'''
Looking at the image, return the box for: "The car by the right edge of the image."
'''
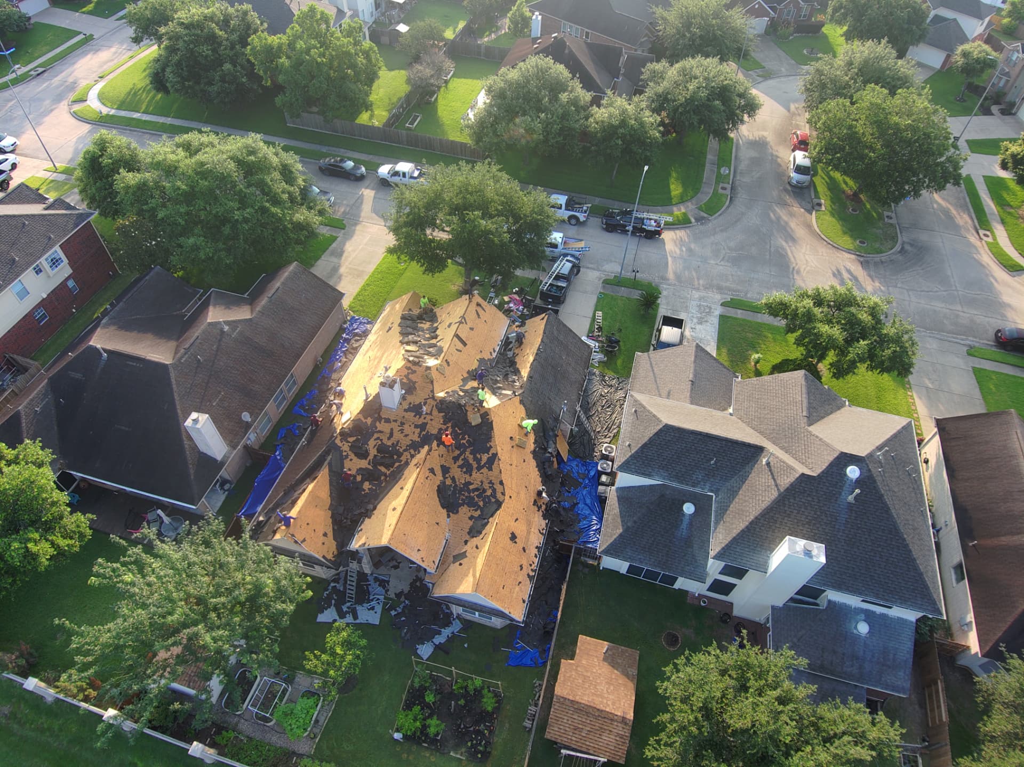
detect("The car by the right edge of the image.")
[990,328,1024,355]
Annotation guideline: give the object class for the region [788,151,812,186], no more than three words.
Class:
car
